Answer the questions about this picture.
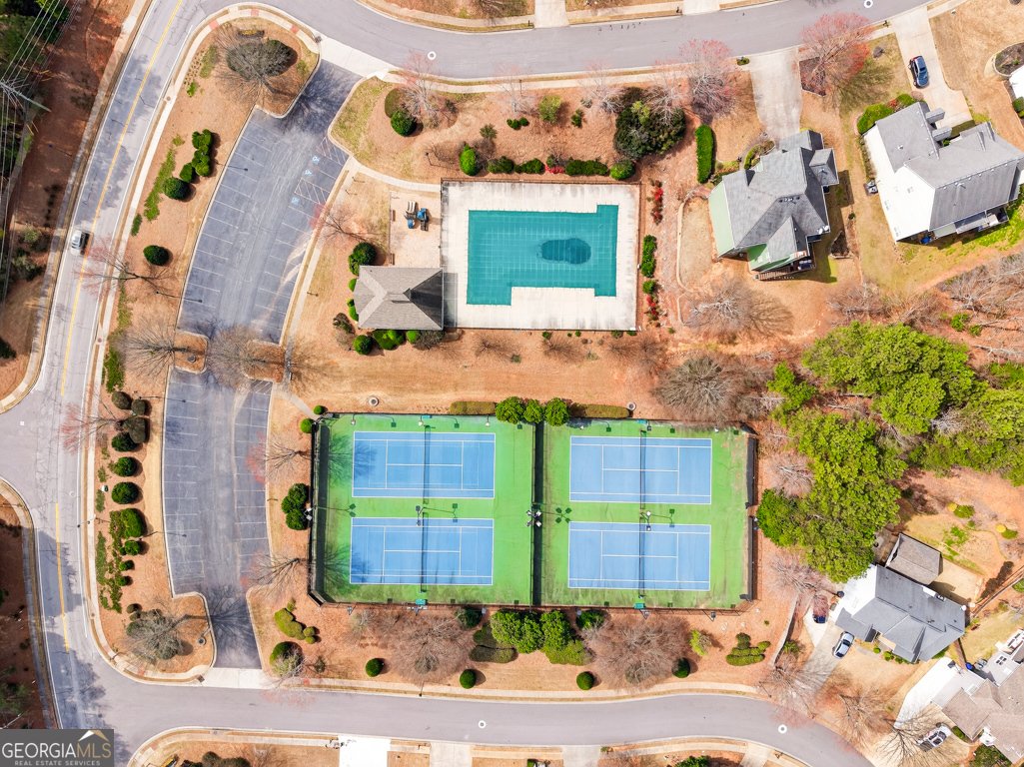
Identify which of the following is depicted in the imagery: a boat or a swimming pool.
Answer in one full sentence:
Looking from above, you can make out a swimming pool.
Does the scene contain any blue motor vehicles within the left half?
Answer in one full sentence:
No, I see no blue motor vehicle within the left half.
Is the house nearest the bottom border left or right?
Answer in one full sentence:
The house nearest the bottom border appears in the right half of the scene.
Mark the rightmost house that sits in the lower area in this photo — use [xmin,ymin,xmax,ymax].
[933,628,1024,766]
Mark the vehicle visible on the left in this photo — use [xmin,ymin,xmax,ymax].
[67,226,85,255]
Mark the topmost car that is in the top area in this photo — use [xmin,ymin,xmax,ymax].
[911,54,930,85]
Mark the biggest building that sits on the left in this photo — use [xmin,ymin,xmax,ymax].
[354,265,443,330]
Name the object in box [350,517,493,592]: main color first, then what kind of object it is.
blue tennis court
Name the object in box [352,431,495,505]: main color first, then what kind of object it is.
blue tennis court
